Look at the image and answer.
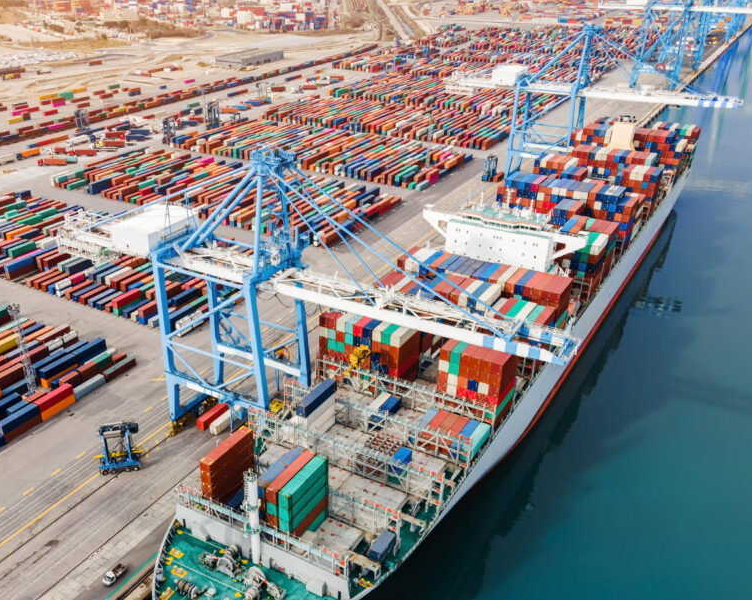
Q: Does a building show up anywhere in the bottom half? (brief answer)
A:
No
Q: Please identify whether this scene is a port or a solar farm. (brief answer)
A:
port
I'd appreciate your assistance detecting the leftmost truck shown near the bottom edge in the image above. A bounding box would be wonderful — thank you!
[98,570,125,593]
